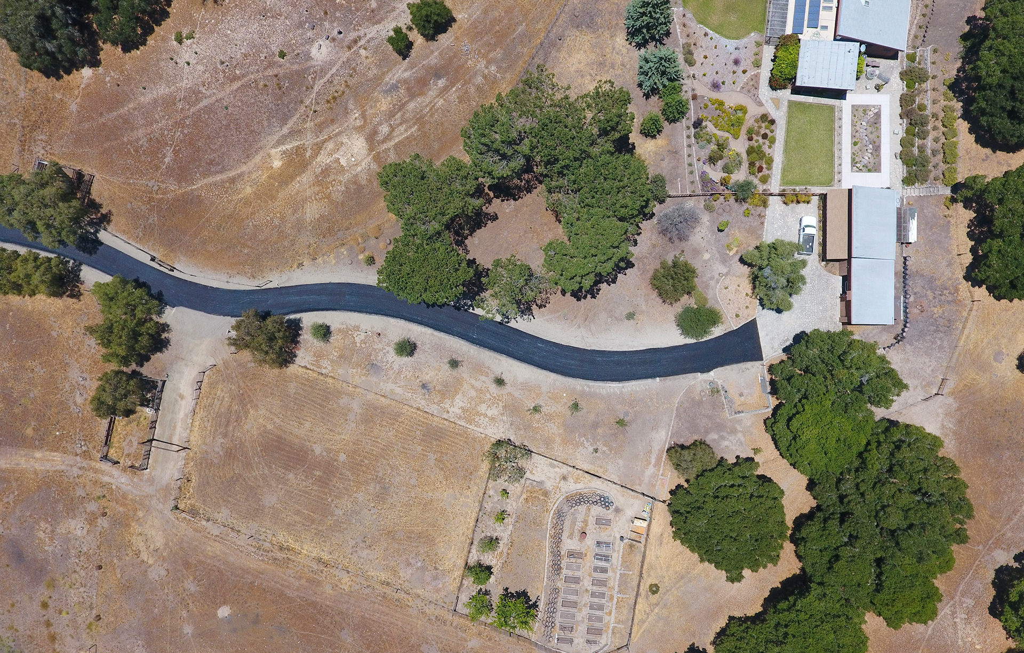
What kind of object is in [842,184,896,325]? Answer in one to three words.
building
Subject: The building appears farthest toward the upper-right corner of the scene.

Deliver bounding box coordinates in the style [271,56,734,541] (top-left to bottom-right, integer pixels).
[835,0,912,57]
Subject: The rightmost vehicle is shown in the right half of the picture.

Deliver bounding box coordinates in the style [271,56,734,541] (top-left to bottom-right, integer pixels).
[797,215,819,256]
